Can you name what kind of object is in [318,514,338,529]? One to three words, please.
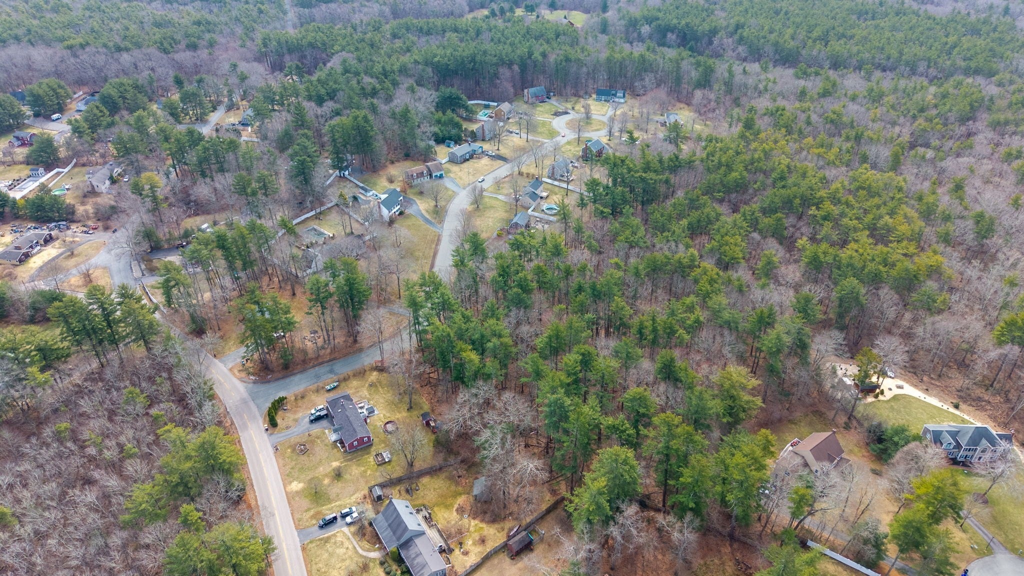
car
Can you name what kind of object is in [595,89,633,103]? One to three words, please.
house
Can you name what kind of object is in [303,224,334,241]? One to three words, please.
swimming pool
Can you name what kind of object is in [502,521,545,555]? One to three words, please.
shed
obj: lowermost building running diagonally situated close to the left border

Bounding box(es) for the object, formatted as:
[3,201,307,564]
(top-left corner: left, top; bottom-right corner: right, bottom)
[0,221,60,264]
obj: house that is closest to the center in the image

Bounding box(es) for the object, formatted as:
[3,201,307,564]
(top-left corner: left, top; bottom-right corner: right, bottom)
[505,210,525,233]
